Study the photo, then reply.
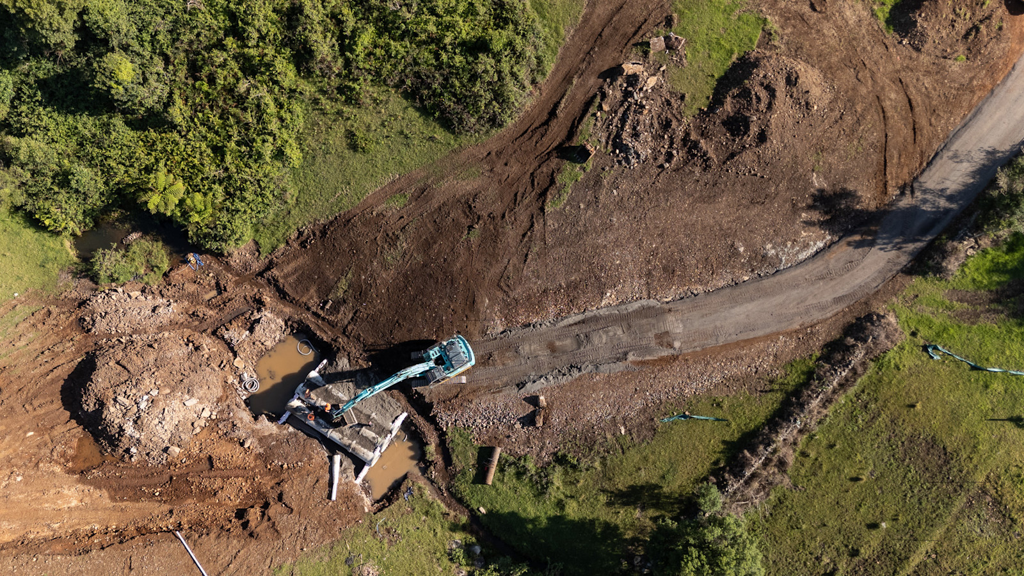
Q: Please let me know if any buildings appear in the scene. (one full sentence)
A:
No, this view has no building in it.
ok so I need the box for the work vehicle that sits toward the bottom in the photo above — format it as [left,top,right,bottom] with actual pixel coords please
[332,336,474,428]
